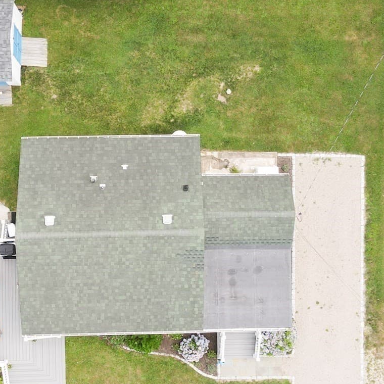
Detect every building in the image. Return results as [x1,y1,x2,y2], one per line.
[15,132,302,339]
[0,0,21,86]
